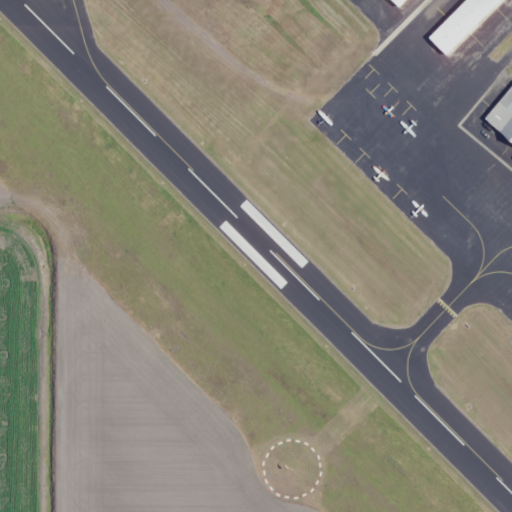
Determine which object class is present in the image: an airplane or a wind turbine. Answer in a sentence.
The image shows an airplane.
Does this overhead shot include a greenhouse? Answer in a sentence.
No, the photo shows no greenhouse.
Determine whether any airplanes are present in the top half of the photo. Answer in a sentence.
Yes, the scene does show an airplane in the top half of the photo.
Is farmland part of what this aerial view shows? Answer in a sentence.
Yes, there's farmland in this view.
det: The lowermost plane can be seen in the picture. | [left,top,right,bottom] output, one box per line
[412,200,428,217]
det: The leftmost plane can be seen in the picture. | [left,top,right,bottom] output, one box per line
[317,109,333,126]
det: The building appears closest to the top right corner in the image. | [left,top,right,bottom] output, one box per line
[428,0,505,57]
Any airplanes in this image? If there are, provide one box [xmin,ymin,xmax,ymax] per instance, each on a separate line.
[382,104,395,118]
[317,109,333,126]
[400,120,418,137]
[412,200,428,217]
[372,165,389,182]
